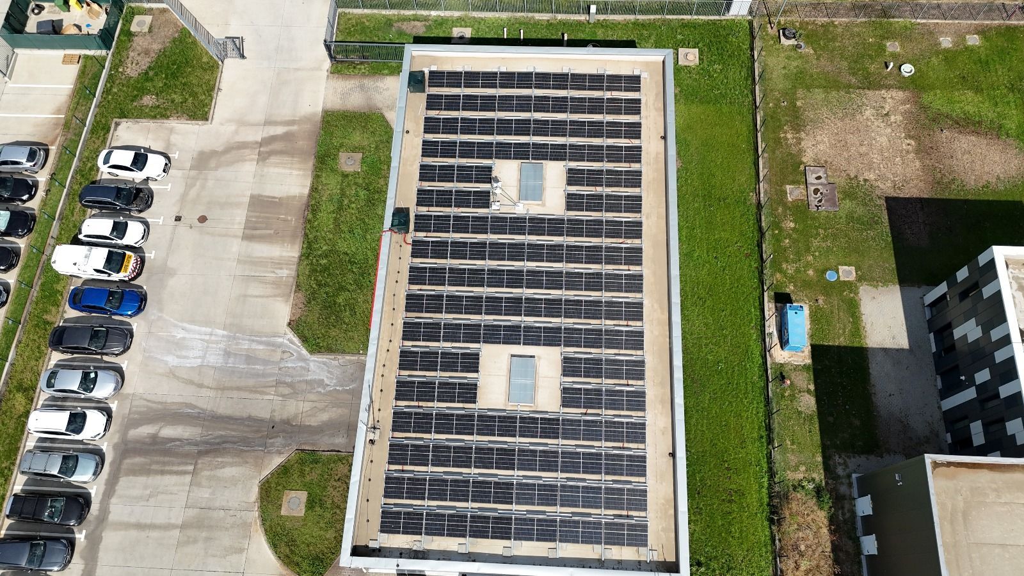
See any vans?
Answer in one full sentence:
Yes, a van can be made out from above.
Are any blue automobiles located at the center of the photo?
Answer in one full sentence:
No, no blue automobile appears at the center of the photo.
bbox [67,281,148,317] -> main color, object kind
blue car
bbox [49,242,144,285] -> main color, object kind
white van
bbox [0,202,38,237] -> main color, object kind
black car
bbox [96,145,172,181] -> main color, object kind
white car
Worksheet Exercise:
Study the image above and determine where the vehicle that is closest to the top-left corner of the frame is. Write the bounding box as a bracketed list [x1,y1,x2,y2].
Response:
[0,145,49,176]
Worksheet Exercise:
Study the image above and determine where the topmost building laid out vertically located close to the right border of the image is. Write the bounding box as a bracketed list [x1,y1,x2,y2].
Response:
[924,245,1024,456]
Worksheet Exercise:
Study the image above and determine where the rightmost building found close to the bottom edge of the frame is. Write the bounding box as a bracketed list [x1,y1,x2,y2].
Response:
[849,452,1024,576]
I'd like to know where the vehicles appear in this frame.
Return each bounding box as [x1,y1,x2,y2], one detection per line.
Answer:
[81,174,154,216]
[67,281,148,317]
[47,320,134,359]
[39,363,124,401]
[79,215,150,251]
[0,145,49,176]
[20,443,105,484]
[0,171,39,206]
[49,242,144,285]
[0,202,38,237]
[96,145,172,181]
[6,489,92,531]
[28,404,112,443]
[0,532,76,576]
